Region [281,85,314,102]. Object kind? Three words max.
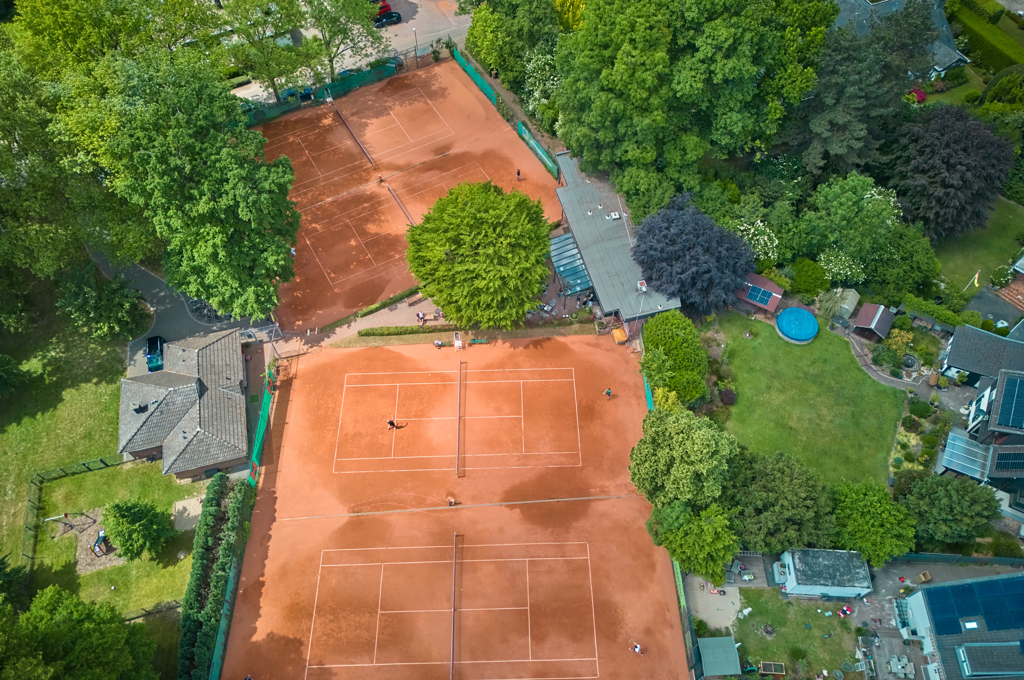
car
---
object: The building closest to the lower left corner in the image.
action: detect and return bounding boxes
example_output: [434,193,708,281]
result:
[118,327,253,482]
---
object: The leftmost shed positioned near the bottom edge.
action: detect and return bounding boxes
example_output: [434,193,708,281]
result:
[695,637,741,678]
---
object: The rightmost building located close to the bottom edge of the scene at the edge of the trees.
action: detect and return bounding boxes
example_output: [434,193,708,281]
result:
[897,572,1024,680]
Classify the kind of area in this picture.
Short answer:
sports ground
